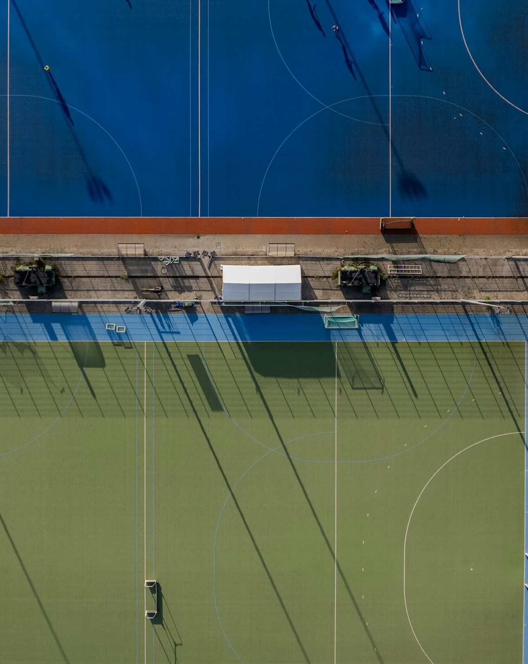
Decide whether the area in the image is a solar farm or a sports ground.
sports ground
